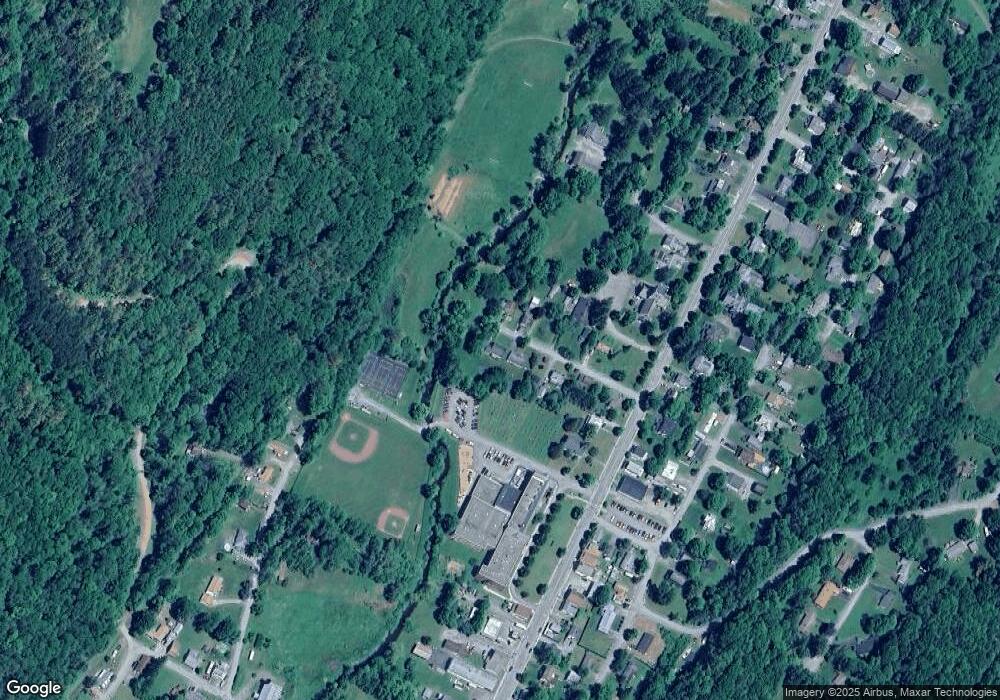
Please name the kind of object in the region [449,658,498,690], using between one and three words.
barn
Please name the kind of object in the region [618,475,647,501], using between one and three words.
building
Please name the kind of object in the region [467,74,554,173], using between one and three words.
soccer field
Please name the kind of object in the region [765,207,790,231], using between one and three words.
building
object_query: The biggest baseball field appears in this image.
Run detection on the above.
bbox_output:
[293,403,432,555]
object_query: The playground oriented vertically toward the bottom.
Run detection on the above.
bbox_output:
[458,444,474,499]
